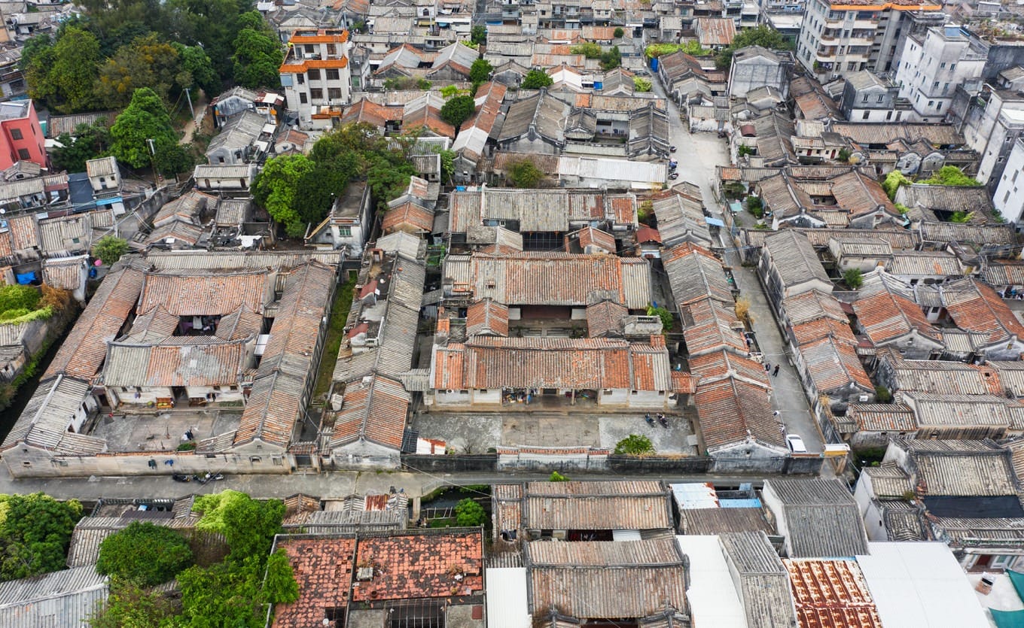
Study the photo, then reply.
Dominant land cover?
buildings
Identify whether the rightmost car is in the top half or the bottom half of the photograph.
bottom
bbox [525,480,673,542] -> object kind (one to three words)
house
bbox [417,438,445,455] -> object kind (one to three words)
shed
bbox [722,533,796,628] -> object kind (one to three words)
house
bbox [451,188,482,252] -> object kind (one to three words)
building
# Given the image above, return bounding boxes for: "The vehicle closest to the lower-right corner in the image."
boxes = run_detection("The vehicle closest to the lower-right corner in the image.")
[785,430,811,455]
